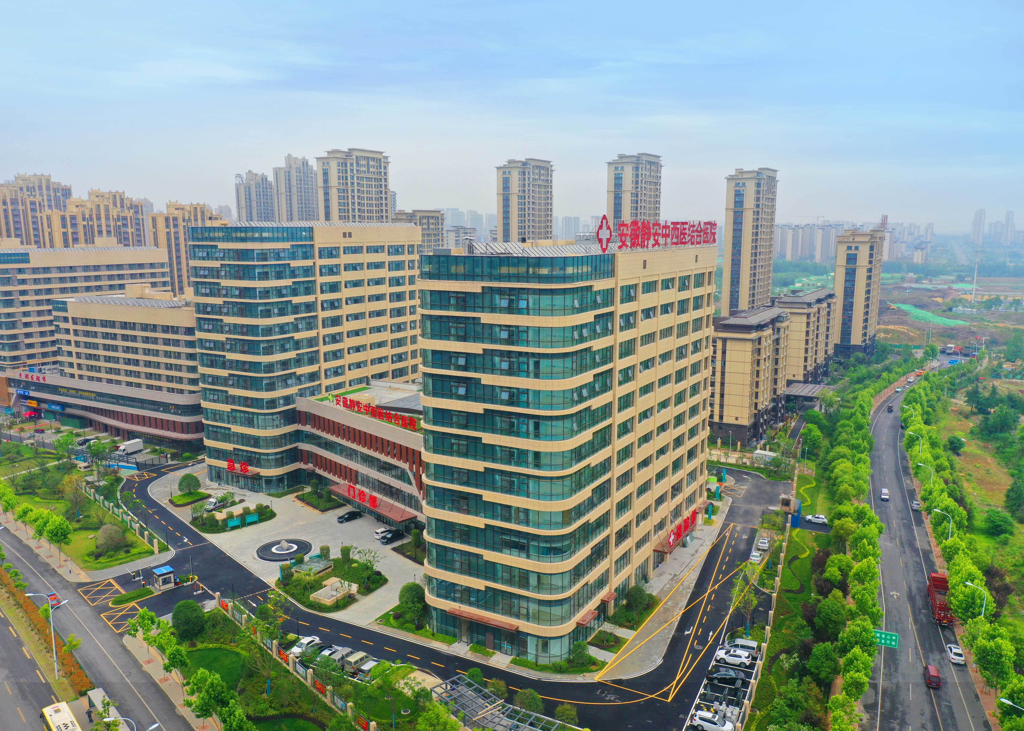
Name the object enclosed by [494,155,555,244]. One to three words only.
building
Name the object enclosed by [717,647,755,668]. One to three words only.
car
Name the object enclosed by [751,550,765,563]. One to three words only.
vehicle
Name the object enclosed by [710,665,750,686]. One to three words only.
car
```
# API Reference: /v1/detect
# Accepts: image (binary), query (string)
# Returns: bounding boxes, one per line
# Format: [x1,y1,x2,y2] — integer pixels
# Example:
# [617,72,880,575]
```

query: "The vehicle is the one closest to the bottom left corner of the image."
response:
[39,705,83,731]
